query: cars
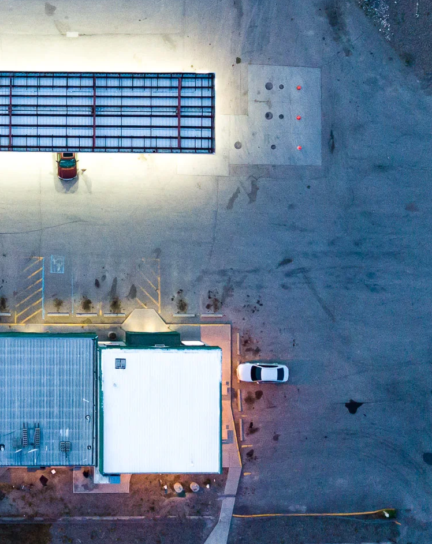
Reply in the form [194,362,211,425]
[236,362,289,386]
[54,155,80,181]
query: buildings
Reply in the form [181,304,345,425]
[96,330,222,475]
[0,326,95,467]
